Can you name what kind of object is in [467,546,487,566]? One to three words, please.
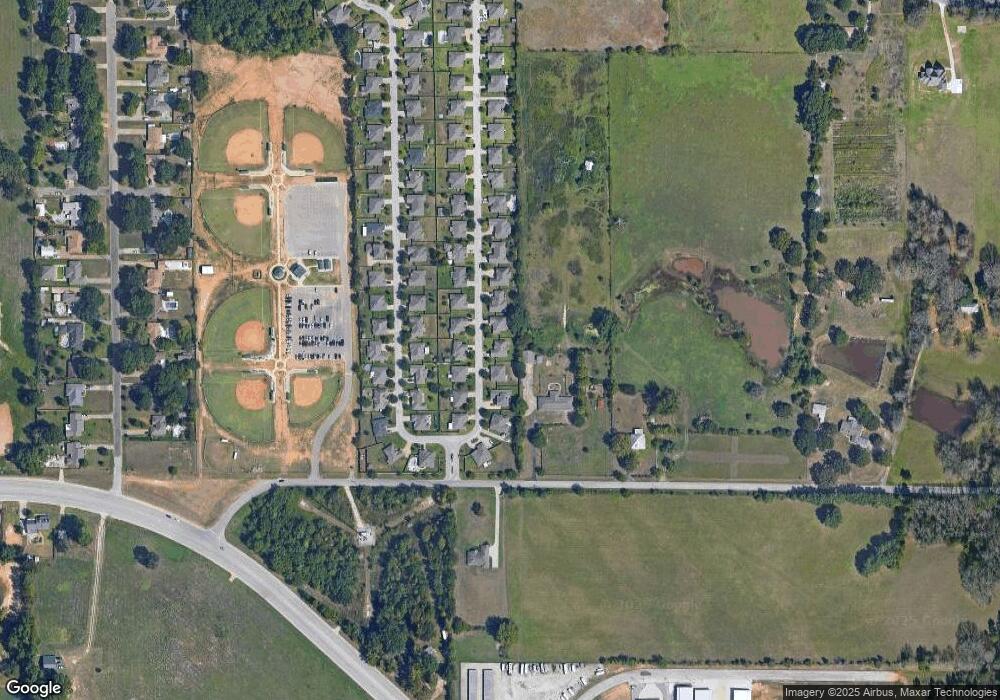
house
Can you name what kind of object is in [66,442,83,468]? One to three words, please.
house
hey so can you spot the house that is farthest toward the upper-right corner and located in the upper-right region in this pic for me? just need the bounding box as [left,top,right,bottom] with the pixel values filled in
[918,68,945,90]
